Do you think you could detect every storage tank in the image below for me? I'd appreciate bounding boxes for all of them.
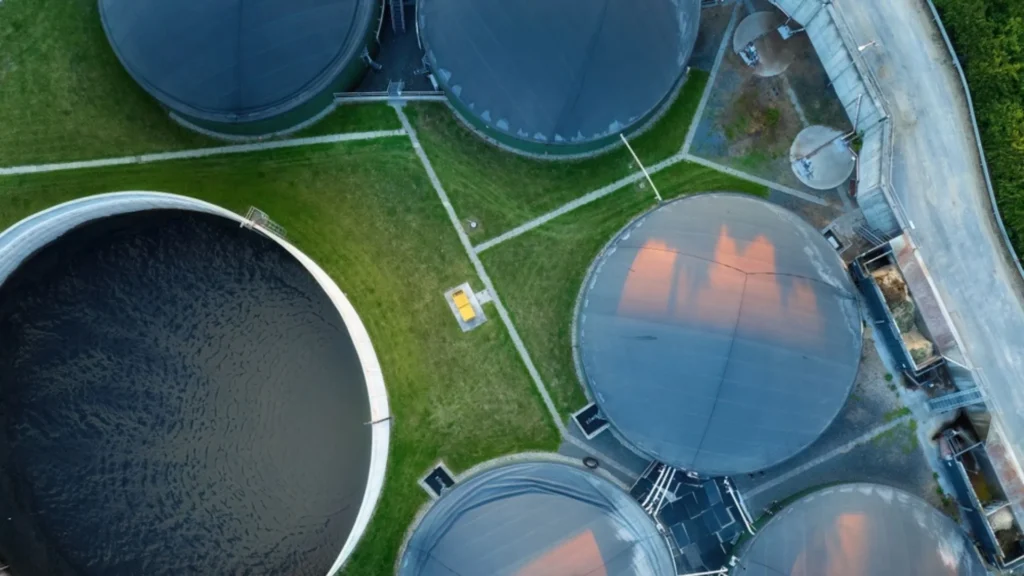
[0,192,394,576]
[576,190,863,476]
[414,0,701,153]
[97,0,394,134]
[397,455,677,576]
[724,479,996,576]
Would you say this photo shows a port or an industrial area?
industrial area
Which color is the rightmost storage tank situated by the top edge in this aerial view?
blue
